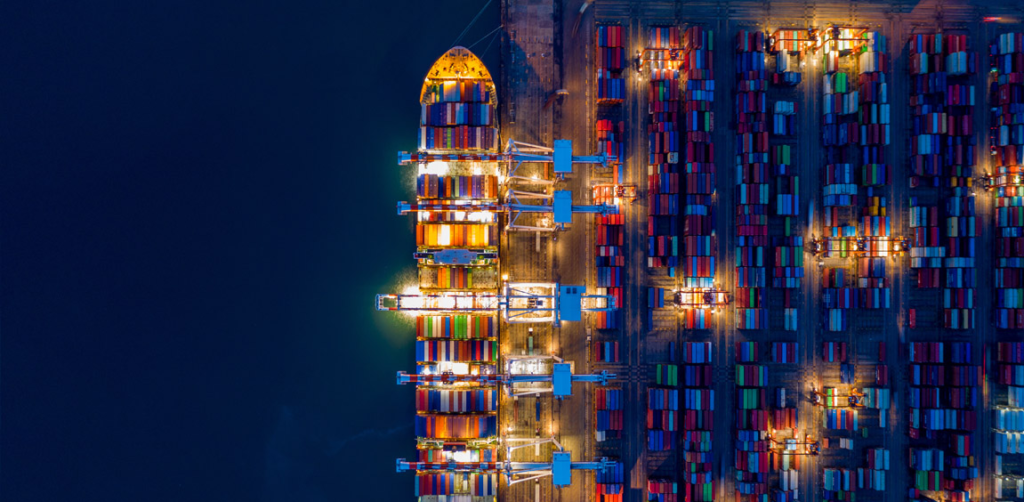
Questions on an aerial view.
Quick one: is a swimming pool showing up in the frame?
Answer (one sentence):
No, there appears to be no swimming pool in this shot.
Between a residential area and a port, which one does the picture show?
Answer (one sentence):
The area seen from above is a port.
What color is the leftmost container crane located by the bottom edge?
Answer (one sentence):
In this view, the leftmost container crane located by the bottom edge is blue.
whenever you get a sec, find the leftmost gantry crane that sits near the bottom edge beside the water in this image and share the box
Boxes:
[396,424,617,489]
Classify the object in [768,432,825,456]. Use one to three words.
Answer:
container crane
